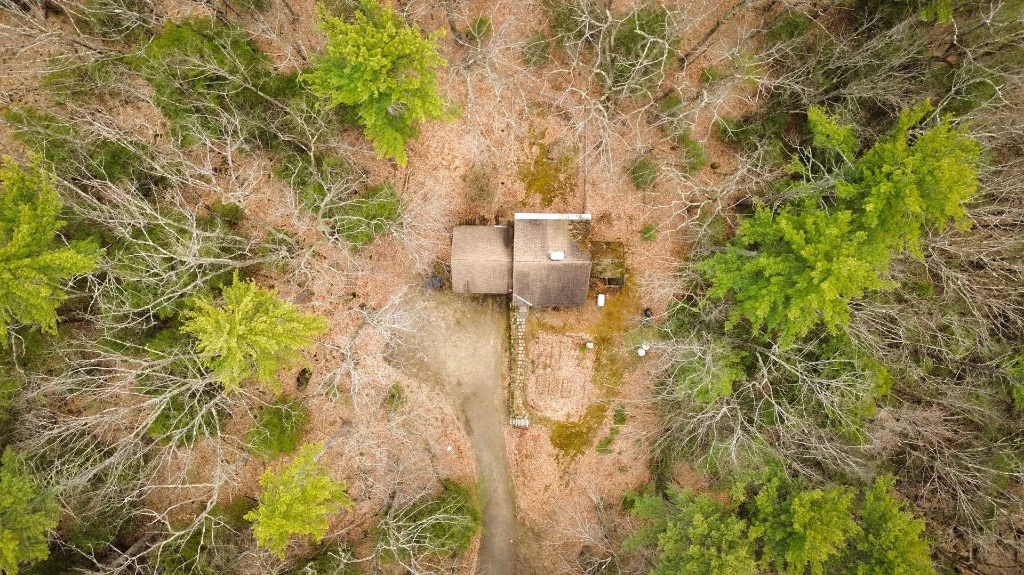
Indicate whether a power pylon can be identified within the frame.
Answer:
No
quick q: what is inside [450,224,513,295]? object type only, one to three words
building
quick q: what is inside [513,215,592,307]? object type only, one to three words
house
